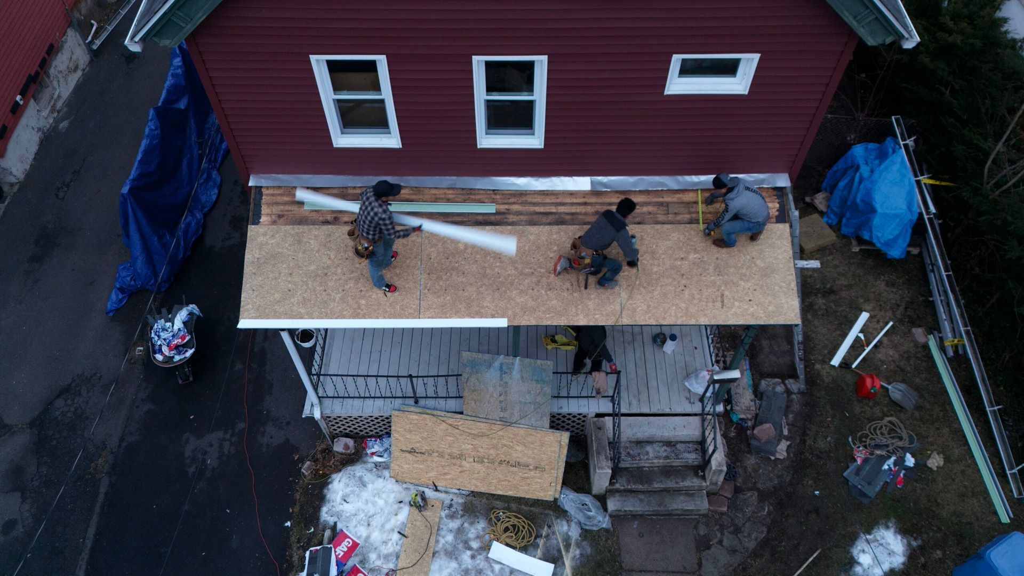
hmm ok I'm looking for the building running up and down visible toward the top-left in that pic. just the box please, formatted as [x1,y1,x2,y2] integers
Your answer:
[0,0,93,216]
